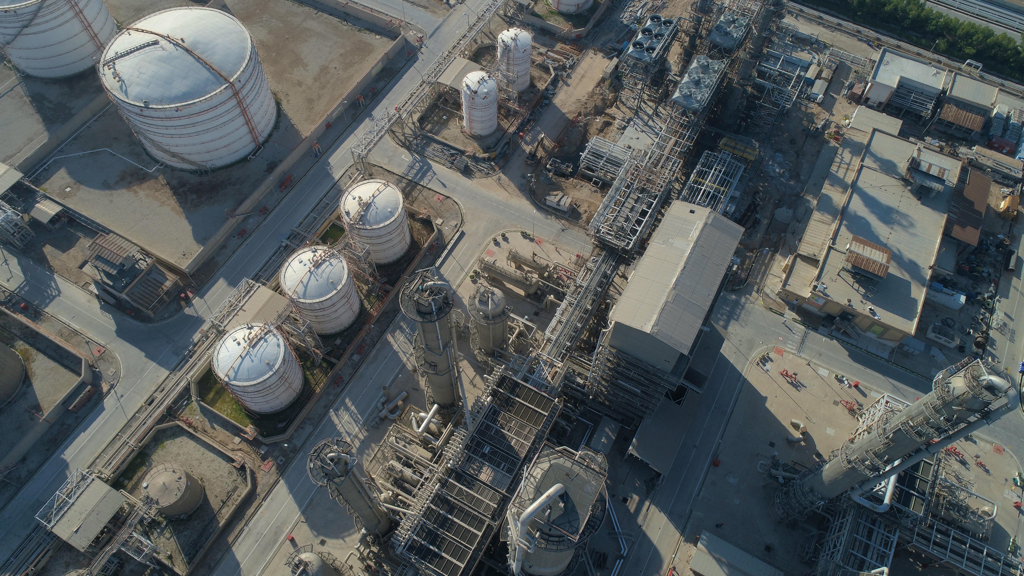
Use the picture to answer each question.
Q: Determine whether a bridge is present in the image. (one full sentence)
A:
Yes, there's a bridge here.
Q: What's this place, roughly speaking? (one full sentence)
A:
What you see here is an industrial area.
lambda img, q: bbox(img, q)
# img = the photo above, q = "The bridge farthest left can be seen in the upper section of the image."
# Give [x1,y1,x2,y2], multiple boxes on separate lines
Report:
[350,107,406,177]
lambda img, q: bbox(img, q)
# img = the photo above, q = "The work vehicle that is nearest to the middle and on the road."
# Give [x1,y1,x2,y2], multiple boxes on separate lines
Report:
[522,131,547,165]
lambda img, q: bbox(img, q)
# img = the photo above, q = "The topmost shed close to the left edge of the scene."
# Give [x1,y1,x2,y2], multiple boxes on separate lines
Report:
[0,161,29,202]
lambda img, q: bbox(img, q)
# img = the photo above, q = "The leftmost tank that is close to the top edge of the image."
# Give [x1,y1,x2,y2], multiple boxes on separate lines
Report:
[0,0,118,78]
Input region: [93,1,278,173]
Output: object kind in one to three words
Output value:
storage tank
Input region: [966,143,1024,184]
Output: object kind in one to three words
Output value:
shed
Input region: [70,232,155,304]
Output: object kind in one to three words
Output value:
building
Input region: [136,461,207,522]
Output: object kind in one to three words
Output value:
storage tank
